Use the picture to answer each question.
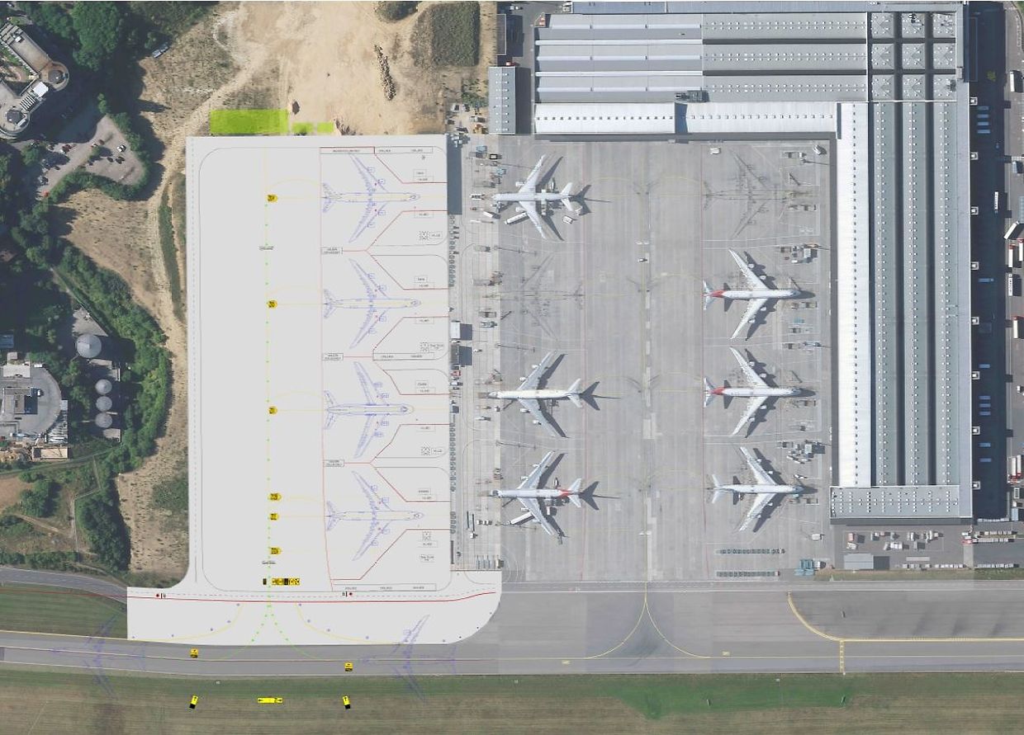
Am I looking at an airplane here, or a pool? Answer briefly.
airplane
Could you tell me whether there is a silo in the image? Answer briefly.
Yes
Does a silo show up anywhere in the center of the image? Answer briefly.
No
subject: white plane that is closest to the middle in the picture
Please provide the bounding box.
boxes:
[489,351,582,437]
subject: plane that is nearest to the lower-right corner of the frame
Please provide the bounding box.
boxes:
[712,447,804,532]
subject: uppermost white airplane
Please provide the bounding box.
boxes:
[493,155,574,238]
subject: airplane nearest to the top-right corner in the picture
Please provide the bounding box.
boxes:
[704,250,801,339]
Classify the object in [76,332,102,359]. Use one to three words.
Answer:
silo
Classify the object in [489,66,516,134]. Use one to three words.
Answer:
building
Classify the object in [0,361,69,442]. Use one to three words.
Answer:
building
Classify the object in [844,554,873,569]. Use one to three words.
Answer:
shed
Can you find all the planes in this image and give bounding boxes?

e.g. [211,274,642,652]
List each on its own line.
[491,452,584,538]
[704,250,801,339]
[705,347,802,437]
[489,351,582,437]
[493,155,574,238]
[712,447,804,532]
